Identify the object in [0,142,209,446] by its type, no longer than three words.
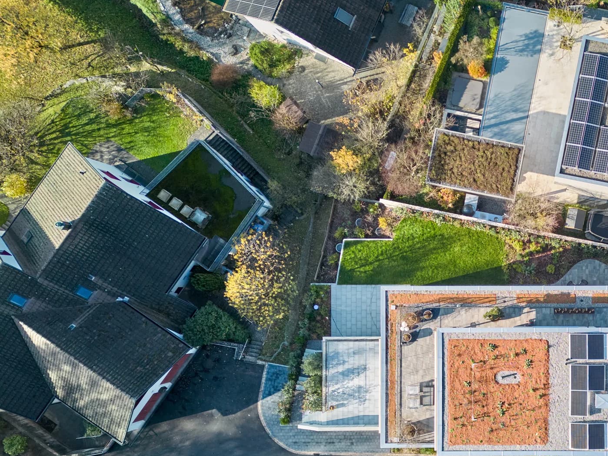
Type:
house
